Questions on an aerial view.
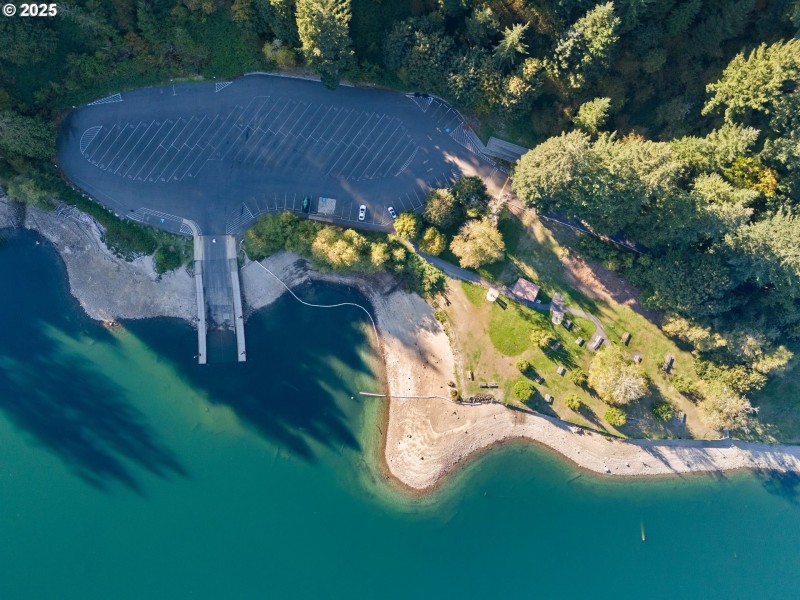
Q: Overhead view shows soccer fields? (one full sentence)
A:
No, no soccer field is visible in the view.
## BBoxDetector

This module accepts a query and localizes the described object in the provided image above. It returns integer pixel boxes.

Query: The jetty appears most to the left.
[194,235,206,364]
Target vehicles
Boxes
[387,205,396,220]
[359,204,366,221]
[302,195,309,211]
